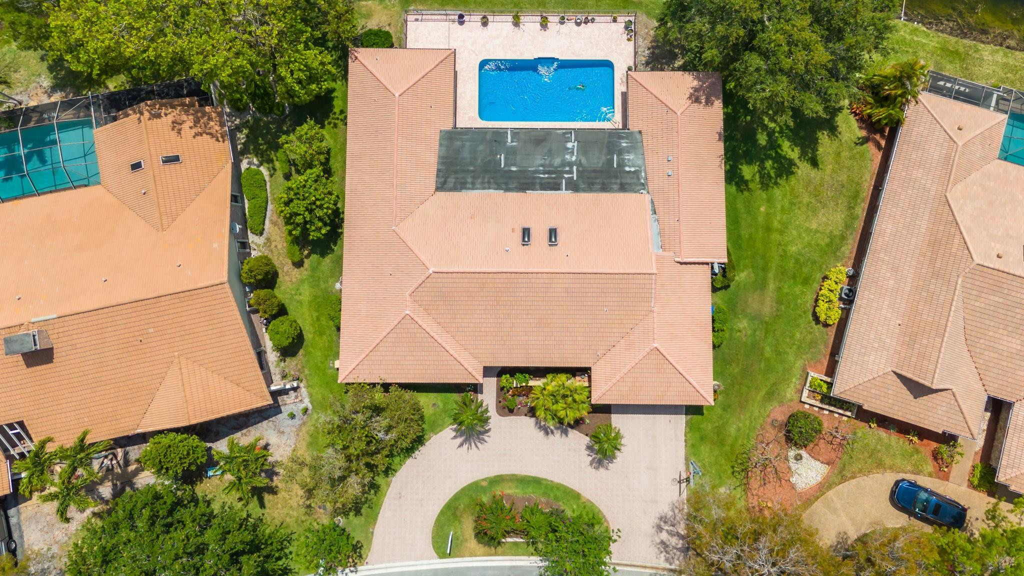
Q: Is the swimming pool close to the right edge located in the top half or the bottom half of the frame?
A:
top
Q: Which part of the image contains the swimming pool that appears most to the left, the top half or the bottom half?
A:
top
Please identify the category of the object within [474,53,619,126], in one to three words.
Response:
swimming pool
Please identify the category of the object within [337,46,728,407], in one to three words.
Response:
house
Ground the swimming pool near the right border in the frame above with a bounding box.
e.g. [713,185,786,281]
[1000,117,1024,165]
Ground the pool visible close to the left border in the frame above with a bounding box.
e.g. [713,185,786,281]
[0,124,101,202]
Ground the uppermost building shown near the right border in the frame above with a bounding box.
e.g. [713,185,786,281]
[831,92,1024,442]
